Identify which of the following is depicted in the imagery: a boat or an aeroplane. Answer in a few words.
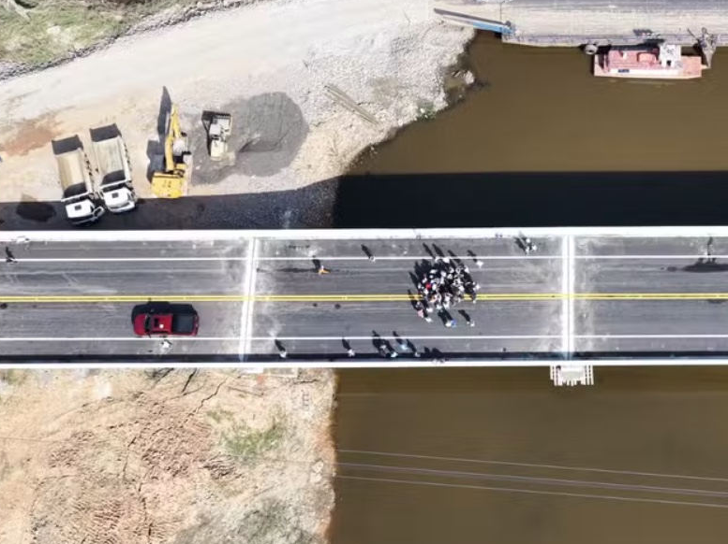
boat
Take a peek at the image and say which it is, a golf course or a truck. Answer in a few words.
truck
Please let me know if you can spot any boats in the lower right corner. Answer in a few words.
No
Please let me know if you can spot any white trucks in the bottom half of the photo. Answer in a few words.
No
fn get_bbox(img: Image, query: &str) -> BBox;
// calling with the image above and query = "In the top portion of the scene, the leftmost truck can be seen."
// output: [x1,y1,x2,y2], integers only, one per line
[52,136,110,230]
